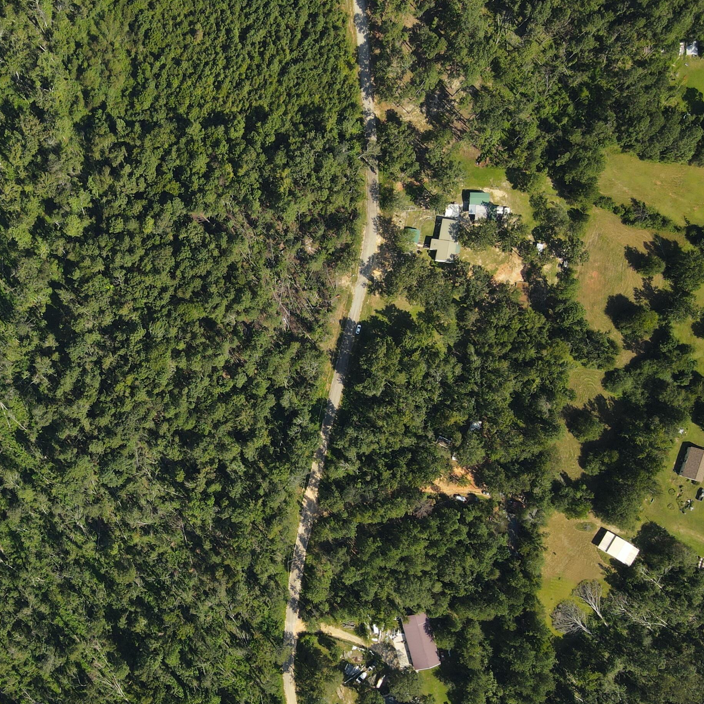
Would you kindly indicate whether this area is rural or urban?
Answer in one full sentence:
It looks rural.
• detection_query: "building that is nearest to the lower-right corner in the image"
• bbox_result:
[594,530,640,566]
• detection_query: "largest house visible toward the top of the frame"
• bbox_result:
[429,218,460,263]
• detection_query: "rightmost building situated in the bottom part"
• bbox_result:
[677,445,704,483]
